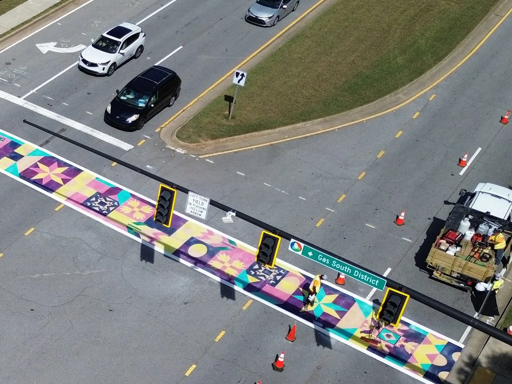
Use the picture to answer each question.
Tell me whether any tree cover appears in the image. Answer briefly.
No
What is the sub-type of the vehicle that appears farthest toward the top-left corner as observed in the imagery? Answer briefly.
car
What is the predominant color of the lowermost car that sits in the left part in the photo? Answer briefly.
black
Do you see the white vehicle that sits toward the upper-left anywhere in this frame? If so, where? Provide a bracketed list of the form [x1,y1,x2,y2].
[79,20,146,75]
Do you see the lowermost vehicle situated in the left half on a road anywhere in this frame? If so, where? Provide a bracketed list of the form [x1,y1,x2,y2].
[104,64,182,130]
